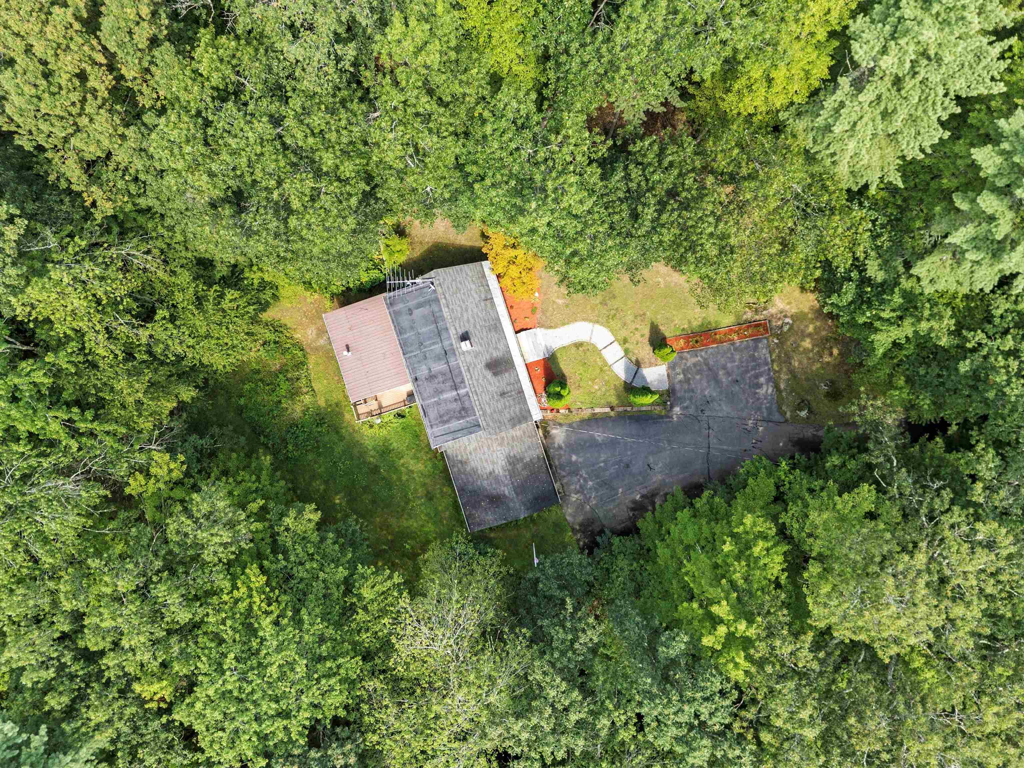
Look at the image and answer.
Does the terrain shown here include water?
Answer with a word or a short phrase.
No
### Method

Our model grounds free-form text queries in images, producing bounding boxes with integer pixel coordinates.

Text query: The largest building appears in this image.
[322,259,563,531]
